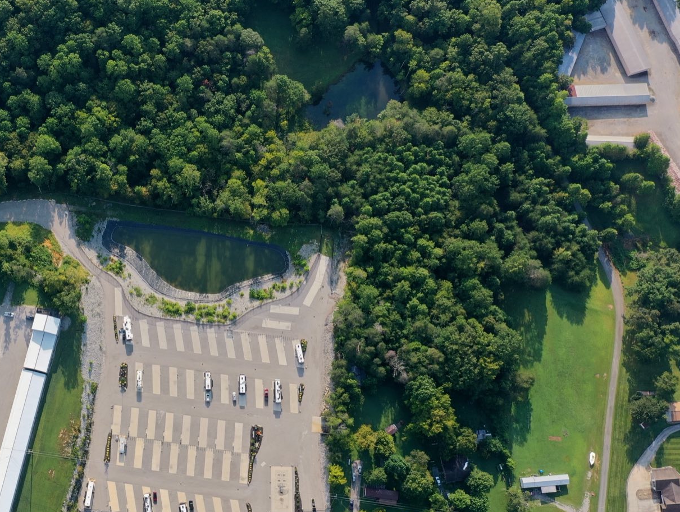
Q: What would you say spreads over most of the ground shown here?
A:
trees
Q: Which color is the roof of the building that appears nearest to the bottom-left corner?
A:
white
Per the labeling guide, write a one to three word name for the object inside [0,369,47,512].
building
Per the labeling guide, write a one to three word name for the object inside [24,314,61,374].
building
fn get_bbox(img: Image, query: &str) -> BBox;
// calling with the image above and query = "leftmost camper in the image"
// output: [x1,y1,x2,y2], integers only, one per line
[81,479,94,510]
